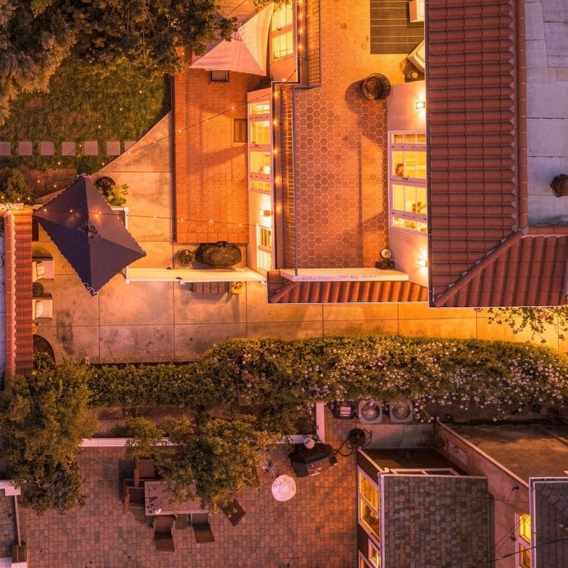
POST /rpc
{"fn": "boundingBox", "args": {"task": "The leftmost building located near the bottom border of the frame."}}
[357,449,487,568]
